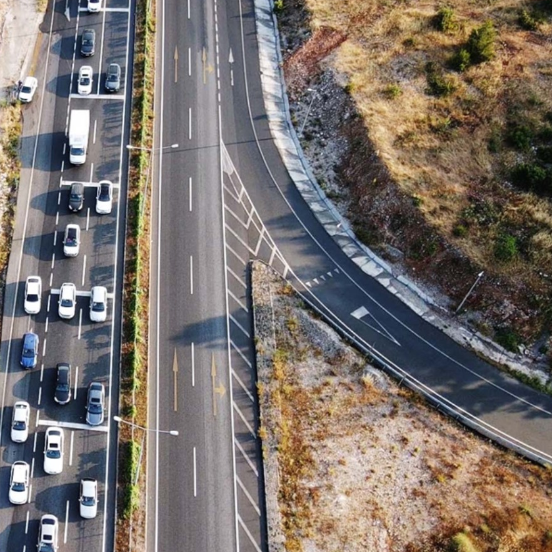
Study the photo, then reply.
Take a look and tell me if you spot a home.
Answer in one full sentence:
No, the frame has no home in it.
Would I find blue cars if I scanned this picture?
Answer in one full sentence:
Yes, there's a blue car down there.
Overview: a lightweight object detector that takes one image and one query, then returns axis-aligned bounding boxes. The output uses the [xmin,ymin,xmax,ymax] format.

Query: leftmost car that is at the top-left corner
[16,77,39,103]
